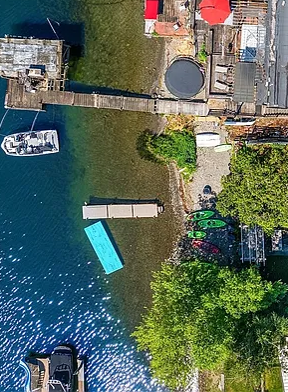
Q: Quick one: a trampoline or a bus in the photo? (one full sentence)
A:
There is a trampoline in the scene.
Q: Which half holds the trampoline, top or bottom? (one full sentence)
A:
You can find the trampoline in the top half.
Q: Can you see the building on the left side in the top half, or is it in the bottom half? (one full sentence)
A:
The building on the left side sits in the top half of the picture.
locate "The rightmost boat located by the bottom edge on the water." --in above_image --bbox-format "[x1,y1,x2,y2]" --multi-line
[50,341,76,392]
